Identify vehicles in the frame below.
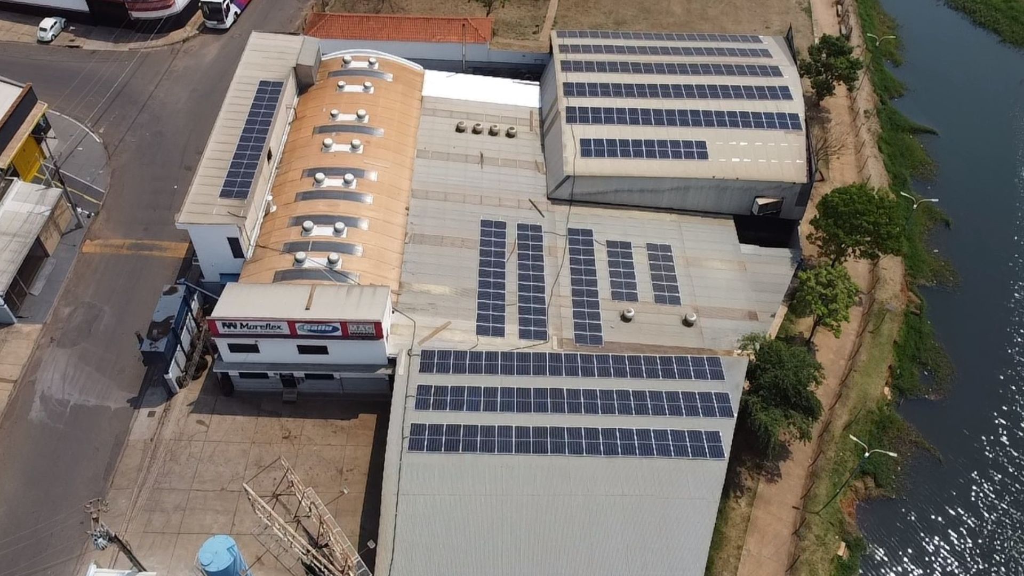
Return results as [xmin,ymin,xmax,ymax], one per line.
[31,17,68,42]
[197,0,247,27]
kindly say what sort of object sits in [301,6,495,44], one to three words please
building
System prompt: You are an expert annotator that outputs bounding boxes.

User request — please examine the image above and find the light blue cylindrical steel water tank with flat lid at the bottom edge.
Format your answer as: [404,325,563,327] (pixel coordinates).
[199,535,261,576]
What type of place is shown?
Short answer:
industrial area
